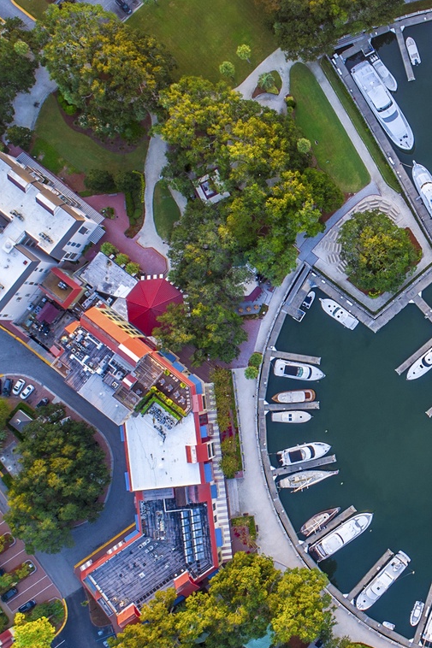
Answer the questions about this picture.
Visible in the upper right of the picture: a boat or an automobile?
boat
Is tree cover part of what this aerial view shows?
Yes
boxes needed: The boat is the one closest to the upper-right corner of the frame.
[407,36,420,65]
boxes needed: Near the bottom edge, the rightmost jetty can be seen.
[409,584,432,648]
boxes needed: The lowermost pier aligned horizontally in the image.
[271,454,338,480]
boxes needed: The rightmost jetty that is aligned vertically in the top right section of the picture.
[391,25,415,82]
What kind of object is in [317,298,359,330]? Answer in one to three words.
boat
